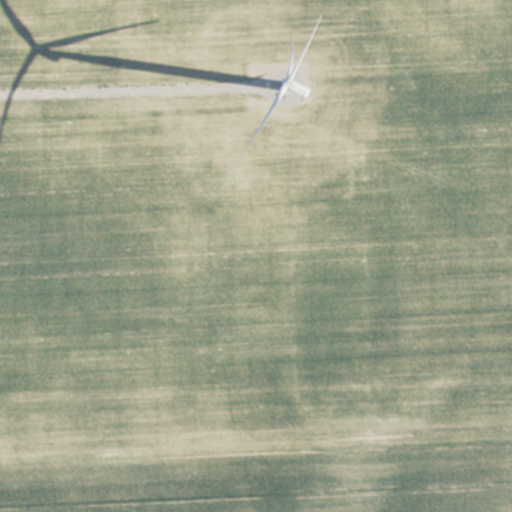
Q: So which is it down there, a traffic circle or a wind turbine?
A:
wind turbine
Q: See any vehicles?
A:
No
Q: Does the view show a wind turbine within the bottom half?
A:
No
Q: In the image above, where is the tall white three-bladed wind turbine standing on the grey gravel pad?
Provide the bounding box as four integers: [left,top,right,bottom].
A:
[230,17,320,170]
